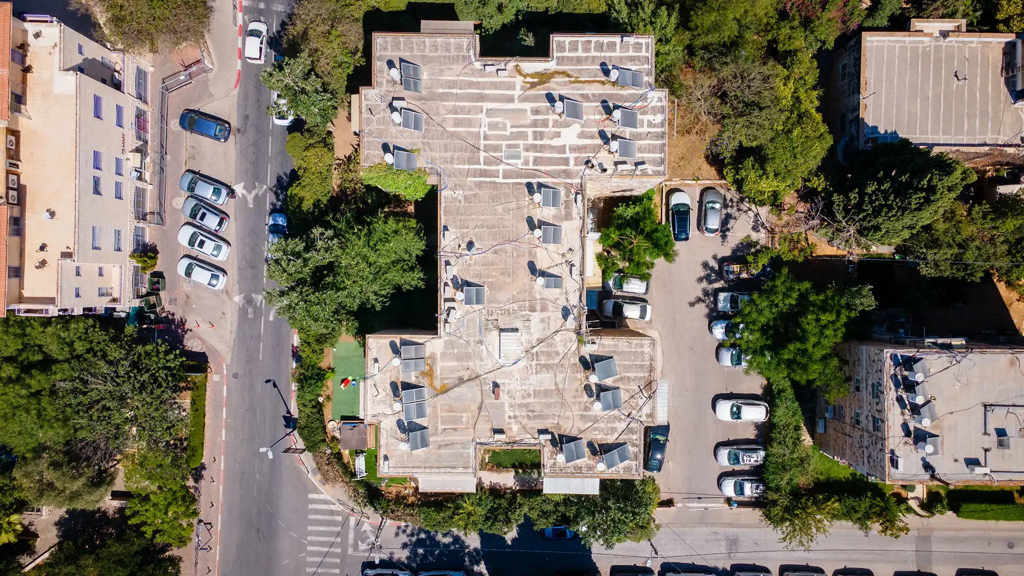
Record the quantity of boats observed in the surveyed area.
none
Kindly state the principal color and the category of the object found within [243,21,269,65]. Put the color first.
white car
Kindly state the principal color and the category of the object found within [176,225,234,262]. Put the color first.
white car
